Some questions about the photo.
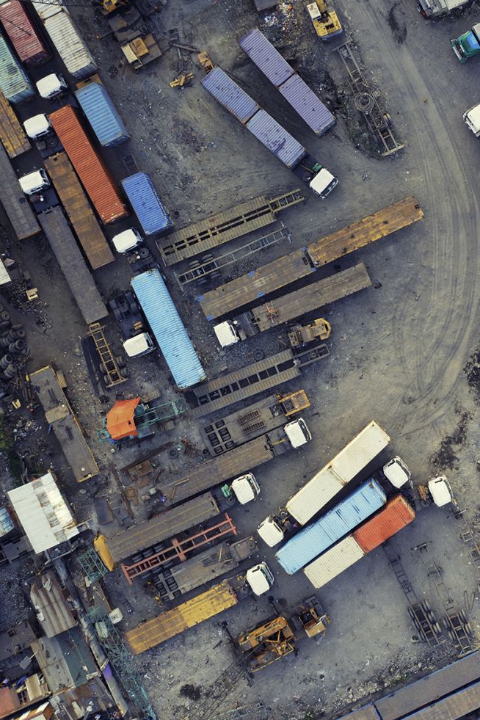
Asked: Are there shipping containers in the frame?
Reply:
Yes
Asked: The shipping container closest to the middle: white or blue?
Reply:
blue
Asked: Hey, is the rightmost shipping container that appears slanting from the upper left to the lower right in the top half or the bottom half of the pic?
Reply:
top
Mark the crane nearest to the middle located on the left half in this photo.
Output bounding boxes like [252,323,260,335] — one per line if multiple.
[97,397,190,444]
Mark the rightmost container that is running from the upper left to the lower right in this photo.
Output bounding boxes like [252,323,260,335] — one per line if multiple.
[280,73,337,139]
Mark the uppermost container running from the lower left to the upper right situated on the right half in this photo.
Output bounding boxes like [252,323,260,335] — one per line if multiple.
[331,416,391,480]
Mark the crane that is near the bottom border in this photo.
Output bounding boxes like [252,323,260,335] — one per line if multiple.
[176,594,326,720]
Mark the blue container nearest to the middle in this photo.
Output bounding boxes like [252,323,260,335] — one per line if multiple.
[133,268,210,390]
